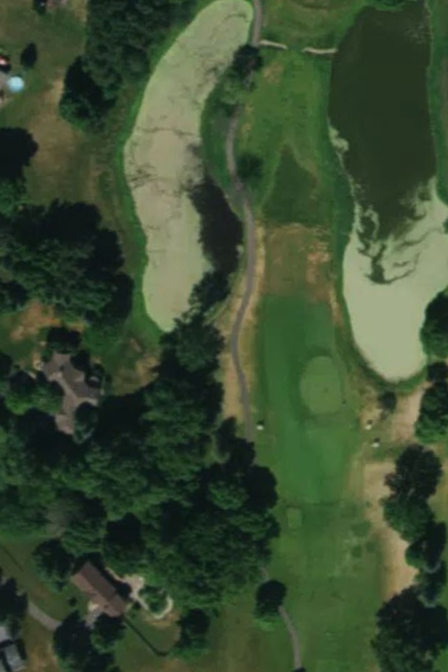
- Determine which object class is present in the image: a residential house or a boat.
residential house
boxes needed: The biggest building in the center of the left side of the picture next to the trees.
[39,356,102,435]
